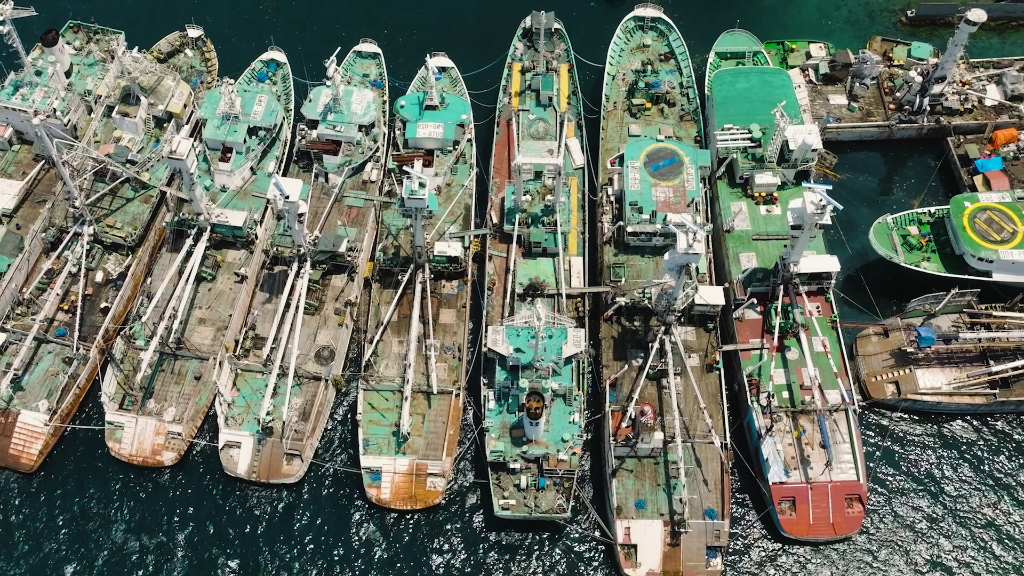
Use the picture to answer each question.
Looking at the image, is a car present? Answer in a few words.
No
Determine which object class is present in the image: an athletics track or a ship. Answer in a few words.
ship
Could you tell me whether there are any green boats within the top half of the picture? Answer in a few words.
Yes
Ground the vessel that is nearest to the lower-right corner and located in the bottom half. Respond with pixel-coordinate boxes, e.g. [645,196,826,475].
[850,287,1024,420]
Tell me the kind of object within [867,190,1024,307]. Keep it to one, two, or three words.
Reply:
ship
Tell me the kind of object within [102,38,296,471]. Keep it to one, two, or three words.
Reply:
vessel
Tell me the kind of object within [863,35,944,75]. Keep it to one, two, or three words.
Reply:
boat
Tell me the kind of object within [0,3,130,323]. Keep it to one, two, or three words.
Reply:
ship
